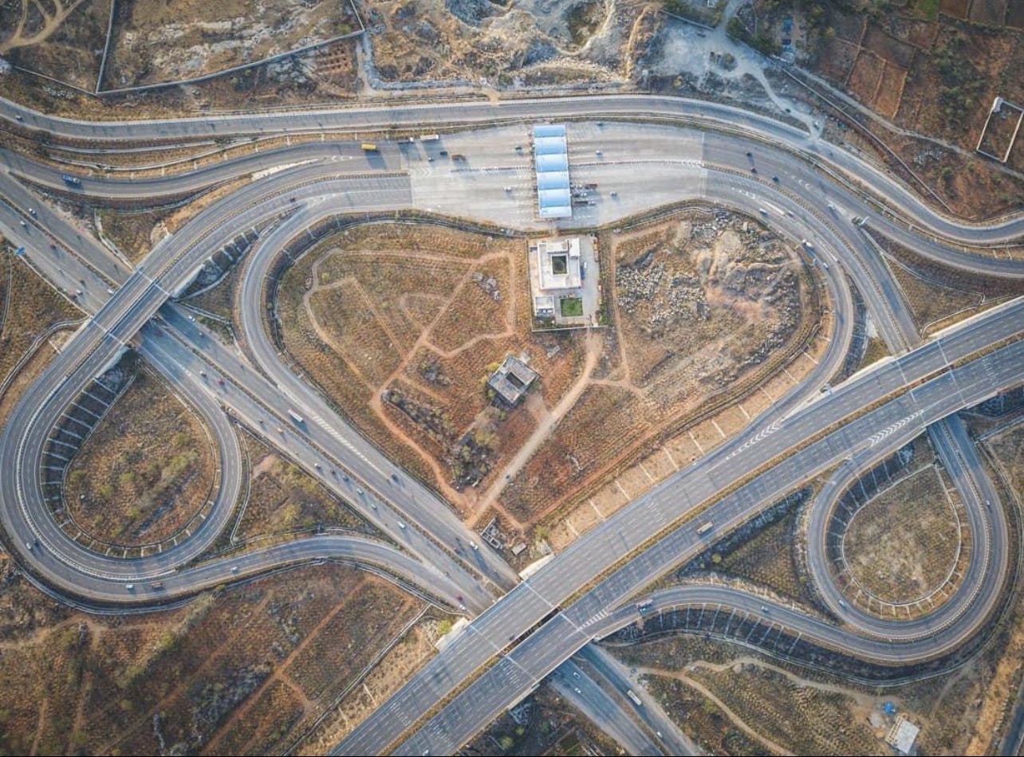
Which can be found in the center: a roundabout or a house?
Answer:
house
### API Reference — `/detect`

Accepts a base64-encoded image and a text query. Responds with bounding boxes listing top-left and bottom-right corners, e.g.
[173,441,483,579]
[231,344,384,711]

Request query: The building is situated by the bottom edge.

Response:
[883,714,920,753]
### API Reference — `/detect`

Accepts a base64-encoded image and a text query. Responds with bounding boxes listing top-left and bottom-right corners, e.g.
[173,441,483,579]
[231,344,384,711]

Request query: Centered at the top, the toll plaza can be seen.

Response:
[527,125,576,225]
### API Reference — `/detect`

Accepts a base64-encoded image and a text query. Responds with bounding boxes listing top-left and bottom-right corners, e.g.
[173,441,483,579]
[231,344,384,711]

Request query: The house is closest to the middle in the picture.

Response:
[488,353,538,403]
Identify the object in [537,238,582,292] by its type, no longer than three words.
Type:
building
